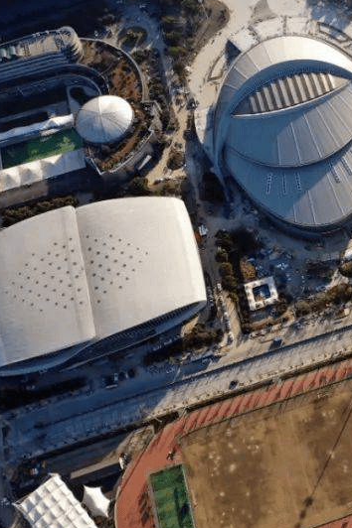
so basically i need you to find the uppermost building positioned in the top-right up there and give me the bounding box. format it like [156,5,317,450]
[211,34,352,244]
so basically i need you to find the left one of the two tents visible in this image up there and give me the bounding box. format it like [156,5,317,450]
[15,474,97,528]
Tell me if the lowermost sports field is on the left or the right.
right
